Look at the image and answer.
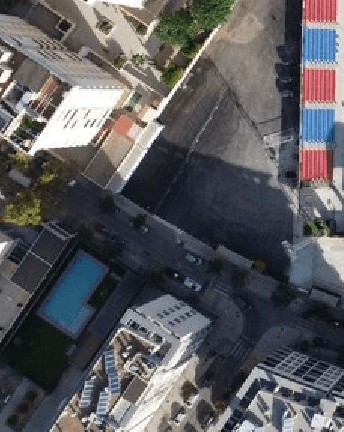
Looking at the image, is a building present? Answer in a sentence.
Yes, this view includes a building.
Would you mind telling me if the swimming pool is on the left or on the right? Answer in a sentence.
The swimming pool appears in the left half of the scene.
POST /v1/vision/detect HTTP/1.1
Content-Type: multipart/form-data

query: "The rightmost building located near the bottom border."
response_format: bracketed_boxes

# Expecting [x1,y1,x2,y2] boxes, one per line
[217,345,344,432]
